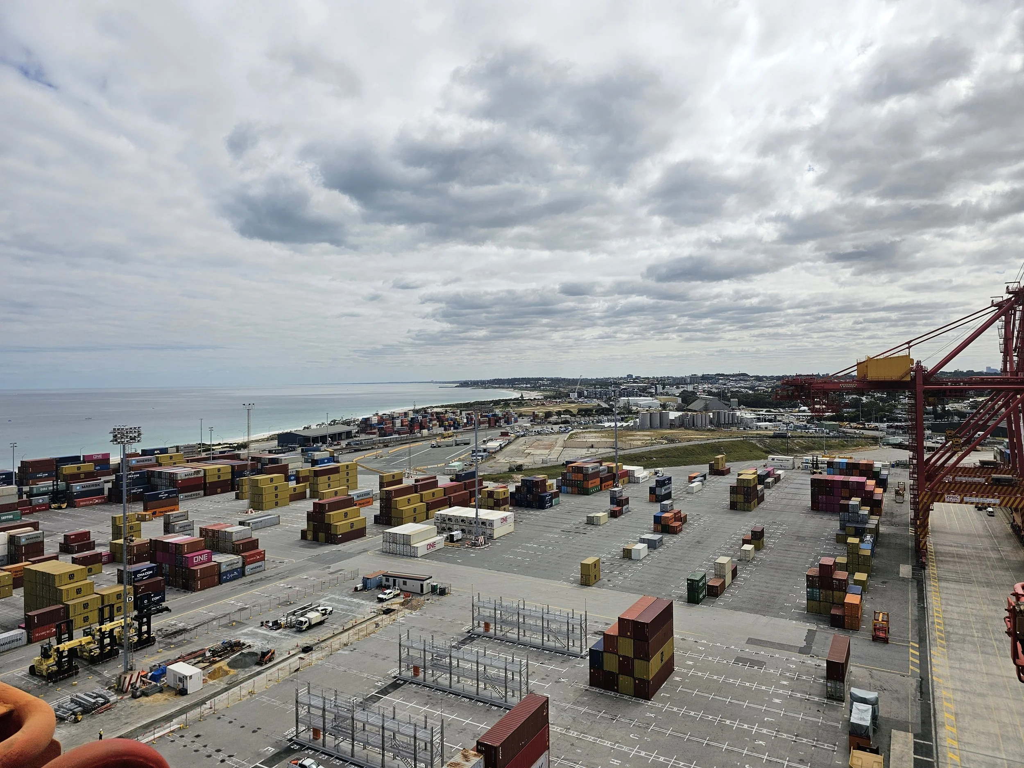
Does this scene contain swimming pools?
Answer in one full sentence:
No, the photo shows no swimming pool.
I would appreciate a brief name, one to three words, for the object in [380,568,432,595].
building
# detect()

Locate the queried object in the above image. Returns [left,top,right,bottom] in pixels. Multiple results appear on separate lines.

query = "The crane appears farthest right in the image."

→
[774,277,1024,570]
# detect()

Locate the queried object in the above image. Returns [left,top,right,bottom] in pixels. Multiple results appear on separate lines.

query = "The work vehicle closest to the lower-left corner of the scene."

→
[41,618,94,679]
